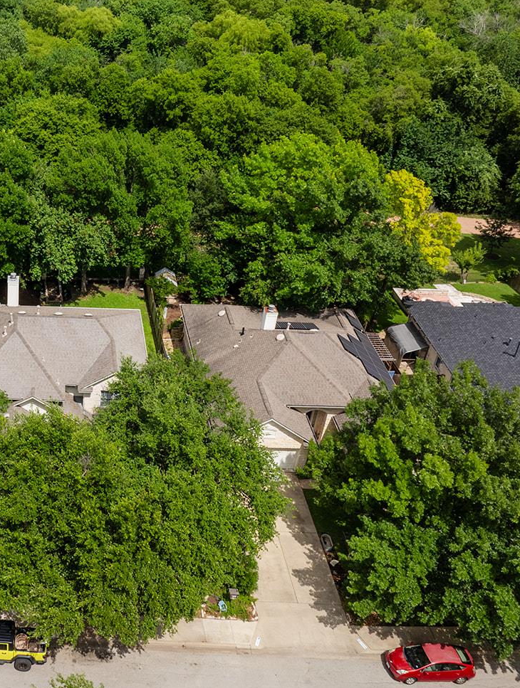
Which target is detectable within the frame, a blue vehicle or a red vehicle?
red vehicle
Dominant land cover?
trees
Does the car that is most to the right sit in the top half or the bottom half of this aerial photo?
bottom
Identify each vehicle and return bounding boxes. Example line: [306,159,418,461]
[385,638,484,686]
[0,619,50,671]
